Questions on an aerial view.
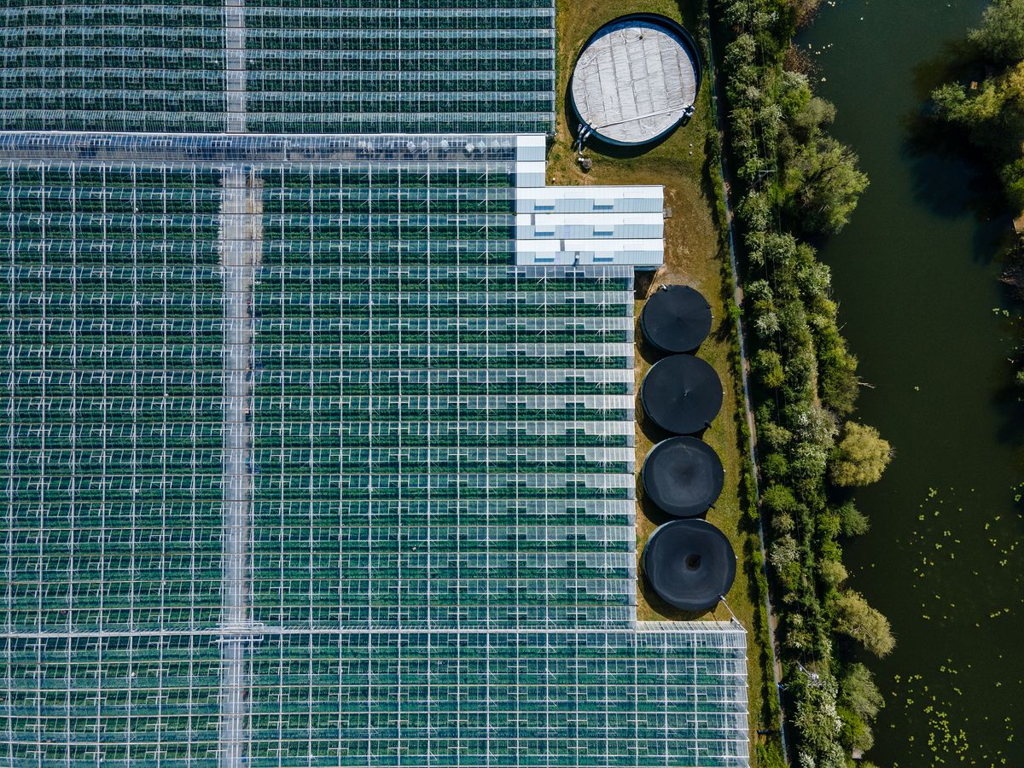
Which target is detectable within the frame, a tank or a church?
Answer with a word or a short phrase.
tank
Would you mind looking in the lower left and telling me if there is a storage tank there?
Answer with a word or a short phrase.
No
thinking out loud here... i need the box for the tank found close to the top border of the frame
[570,15,702,152]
